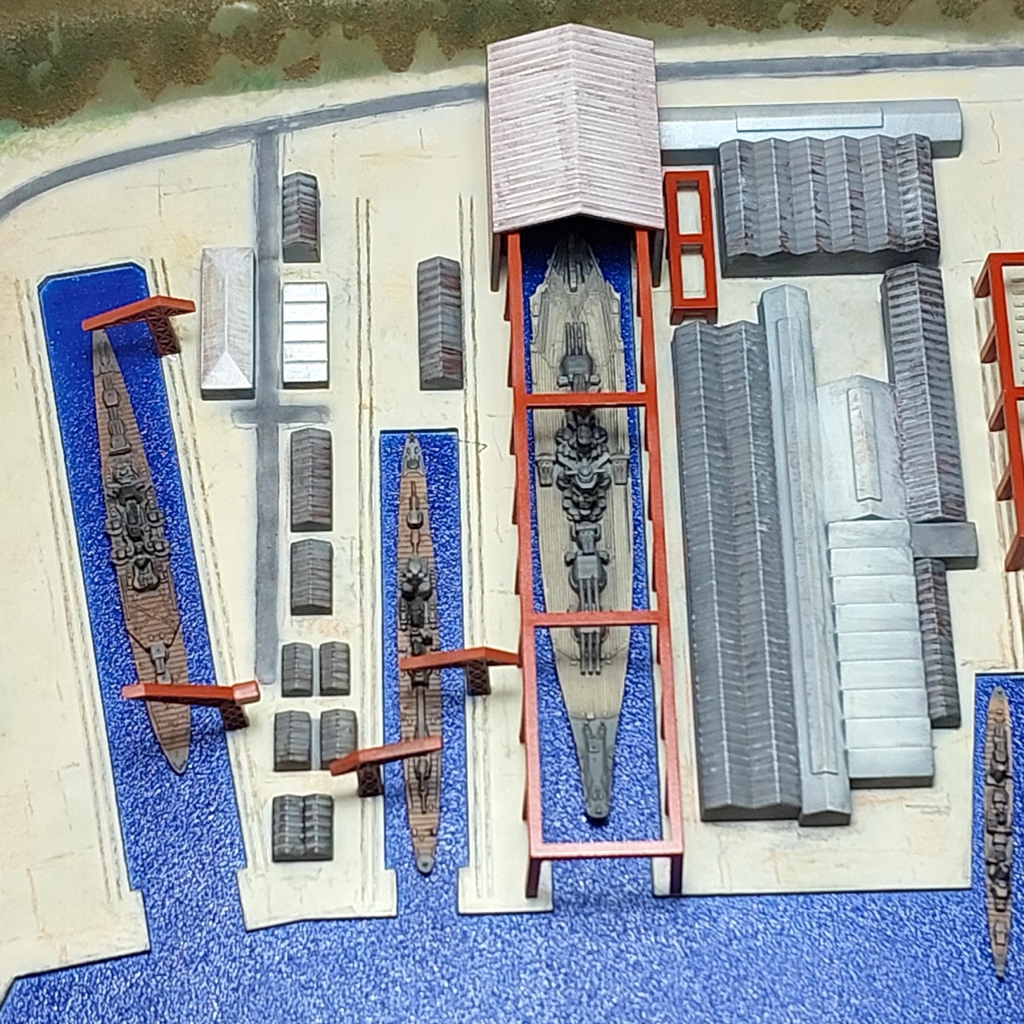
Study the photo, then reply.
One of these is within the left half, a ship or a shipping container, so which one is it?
ship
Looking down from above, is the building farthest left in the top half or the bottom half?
top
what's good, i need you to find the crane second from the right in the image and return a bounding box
[331,739,442,804]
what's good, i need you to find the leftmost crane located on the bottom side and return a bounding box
[122,683,260,735]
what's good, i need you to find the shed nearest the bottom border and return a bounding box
[273,795,333,860]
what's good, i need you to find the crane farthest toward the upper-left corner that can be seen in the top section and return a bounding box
[82,297,196,364]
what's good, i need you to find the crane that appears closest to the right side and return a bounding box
[400,648,520,701]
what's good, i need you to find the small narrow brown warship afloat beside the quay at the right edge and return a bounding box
[984,687,1013,977]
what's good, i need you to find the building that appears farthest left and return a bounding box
[201,247,254,399]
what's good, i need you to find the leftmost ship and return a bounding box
[93,326,191,775]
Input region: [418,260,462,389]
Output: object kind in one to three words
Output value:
shed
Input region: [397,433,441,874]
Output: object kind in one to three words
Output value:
vessel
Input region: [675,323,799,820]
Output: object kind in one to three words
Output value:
building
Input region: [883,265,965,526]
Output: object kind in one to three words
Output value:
shed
